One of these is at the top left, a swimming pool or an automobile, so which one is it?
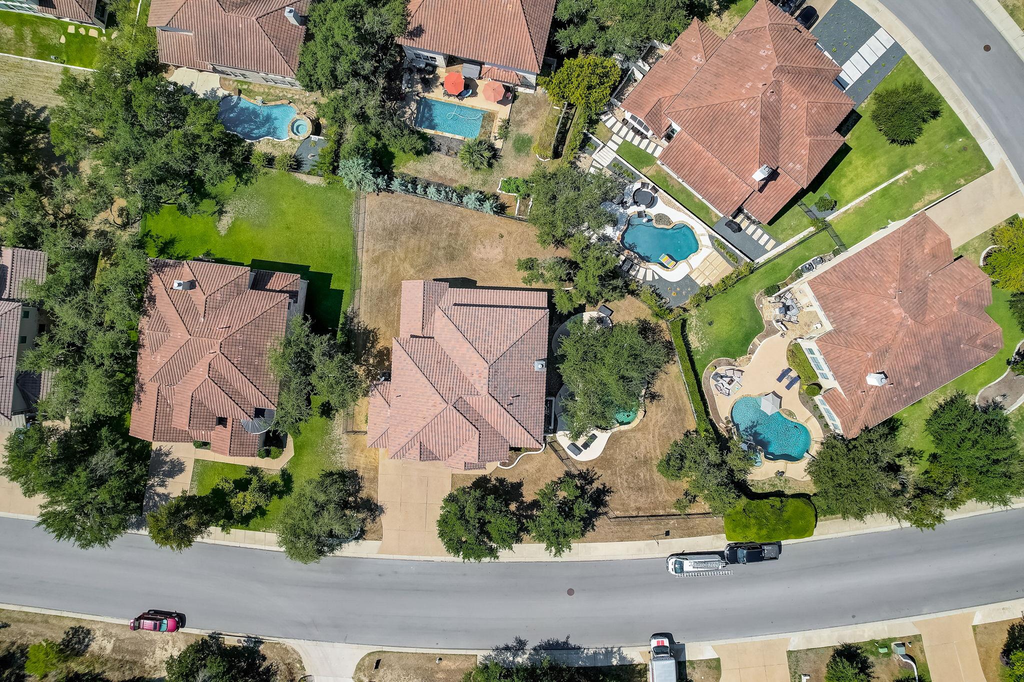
swimming pool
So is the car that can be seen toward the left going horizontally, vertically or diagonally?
horizontally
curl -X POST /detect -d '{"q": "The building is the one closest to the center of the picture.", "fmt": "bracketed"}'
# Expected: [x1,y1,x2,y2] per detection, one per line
[368,280,550,470]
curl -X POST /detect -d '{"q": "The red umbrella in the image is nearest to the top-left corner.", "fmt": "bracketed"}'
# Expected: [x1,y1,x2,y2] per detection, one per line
[444,74,465,96]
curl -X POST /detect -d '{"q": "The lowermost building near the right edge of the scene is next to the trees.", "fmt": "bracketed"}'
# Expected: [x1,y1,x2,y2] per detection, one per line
[793,211,1005,436]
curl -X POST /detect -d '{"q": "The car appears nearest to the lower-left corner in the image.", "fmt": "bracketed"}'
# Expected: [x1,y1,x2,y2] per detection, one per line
[126,610,184,637]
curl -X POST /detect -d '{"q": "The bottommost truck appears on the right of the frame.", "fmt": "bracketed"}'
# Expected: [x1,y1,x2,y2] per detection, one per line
[647,630,676,682]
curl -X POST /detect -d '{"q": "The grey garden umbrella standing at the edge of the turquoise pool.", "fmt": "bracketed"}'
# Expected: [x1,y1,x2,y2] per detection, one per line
[759,391,781,414]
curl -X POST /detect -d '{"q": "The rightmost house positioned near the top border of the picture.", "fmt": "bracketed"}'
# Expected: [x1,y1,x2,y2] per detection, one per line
[620,0,856,225]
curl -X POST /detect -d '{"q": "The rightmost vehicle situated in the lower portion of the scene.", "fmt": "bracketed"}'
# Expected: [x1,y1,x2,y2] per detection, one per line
[724,542,783,569]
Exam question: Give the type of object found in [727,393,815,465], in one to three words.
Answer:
swimming pool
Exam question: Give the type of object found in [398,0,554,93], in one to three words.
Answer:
house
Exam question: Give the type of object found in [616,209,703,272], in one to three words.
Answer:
swimming pool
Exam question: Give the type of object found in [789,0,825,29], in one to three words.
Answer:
car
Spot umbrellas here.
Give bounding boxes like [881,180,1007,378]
[759,391,781,414]
[444,74,465,96]
[482,81,505,104]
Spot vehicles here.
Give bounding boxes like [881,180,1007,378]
[647,630,676,682]
[724,542,783,569]
[126,610,184,637]
[666,550,729,583]
[789,0,825,29]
